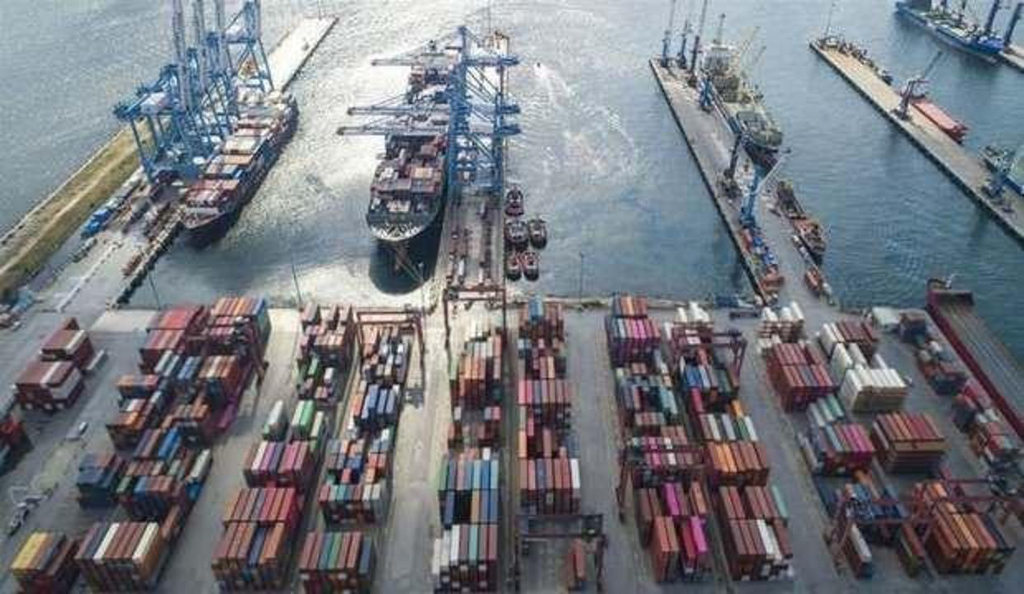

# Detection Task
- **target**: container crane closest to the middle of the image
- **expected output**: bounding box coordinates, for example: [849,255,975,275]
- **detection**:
[442,282,511,344]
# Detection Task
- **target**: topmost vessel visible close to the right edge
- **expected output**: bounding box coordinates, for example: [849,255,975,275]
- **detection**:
[900,0,1012,72]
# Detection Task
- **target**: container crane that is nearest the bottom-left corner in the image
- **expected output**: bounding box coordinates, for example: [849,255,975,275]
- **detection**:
[169,322,266,388]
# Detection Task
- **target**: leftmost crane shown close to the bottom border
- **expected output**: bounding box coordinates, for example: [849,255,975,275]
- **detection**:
[513,510,614,594]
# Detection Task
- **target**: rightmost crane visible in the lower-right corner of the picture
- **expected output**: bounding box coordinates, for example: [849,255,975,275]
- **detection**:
[887,469,1024,550]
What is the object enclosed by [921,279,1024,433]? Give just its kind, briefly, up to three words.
ship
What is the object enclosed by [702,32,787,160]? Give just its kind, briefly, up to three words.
ship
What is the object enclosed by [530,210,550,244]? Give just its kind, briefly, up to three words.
boat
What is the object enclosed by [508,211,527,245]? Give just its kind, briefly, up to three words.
boat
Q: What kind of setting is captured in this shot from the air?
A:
port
